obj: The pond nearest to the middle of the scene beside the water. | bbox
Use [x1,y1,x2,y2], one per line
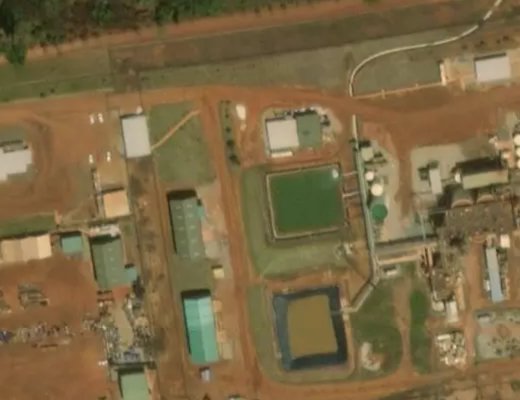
[268,163,347,238]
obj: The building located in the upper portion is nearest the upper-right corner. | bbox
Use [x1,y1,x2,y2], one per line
[475,56,510,82]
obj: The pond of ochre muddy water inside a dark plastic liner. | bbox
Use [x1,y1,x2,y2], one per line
[272,285,348,372]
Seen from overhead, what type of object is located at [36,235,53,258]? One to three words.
shed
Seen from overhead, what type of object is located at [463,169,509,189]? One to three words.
building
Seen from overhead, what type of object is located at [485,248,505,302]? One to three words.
shed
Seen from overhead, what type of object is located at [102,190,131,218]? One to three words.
house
